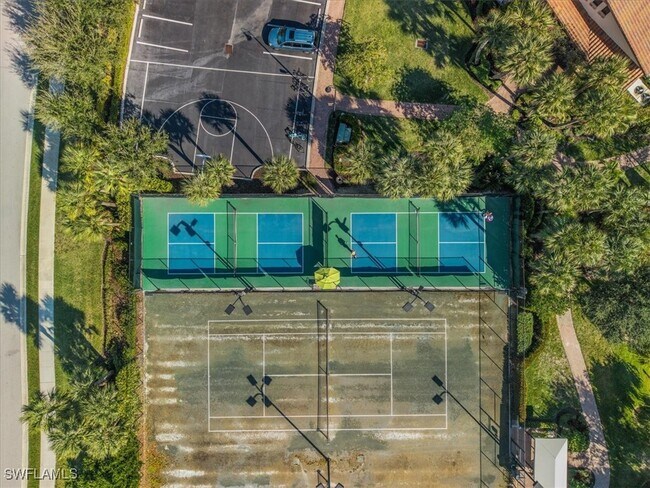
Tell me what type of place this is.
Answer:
sports ground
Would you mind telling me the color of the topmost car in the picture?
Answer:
blue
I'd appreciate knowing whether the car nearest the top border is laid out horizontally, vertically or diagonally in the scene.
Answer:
horizontally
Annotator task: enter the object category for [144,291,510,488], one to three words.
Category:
tennis court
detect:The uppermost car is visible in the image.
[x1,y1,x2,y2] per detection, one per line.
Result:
[267,26,317,53]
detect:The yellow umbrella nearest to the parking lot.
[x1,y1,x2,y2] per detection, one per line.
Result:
[314,268,338,292]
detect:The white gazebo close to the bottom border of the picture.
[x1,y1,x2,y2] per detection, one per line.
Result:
[533,437,567,488]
